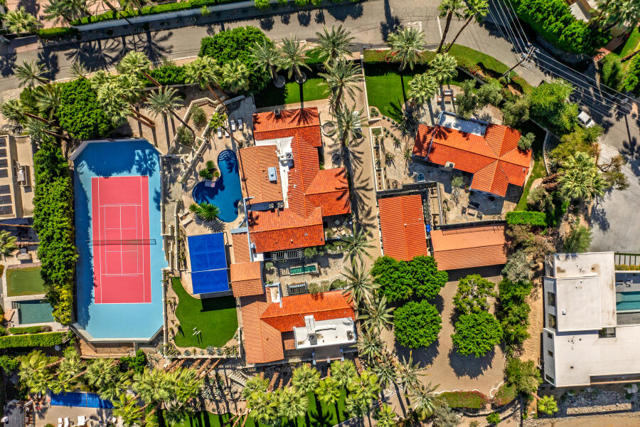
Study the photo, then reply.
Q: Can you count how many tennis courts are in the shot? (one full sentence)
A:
Just 1 tennis court appears in this view.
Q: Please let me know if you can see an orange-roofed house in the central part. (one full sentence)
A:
Yes, looking in the central part, one can make out an orange-roofed house.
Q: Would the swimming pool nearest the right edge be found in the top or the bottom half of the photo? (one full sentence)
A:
The swimming pool nearest the right edge sits in the bottom half of the picture.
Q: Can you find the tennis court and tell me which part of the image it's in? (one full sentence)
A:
You can find the tennis court in the left area of the picture.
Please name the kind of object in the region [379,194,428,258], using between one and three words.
building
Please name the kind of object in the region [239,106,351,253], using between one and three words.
house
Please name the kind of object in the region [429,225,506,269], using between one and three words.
shed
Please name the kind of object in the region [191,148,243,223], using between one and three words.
swimming pool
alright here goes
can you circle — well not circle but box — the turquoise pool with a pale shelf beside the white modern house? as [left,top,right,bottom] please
[616,288,640,312]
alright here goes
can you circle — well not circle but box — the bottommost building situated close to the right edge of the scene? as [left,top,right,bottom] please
[542,250,640,387]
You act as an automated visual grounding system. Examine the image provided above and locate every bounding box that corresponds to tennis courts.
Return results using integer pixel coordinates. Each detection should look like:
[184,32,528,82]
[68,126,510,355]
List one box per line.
[75,139,166,340]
